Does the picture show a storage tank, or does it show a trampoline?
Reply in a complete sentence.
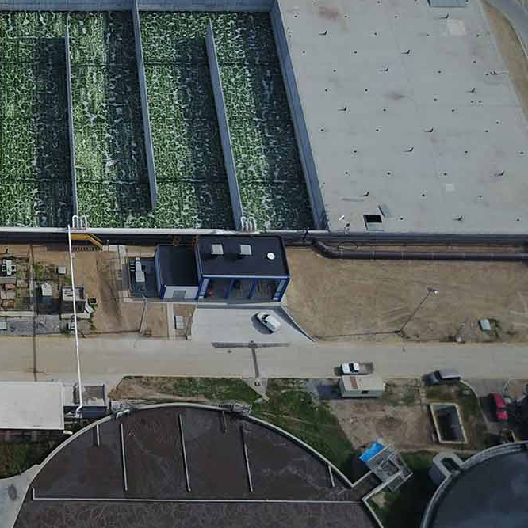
Visible in the photo is a storage tank.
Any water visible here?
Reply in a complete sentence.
Yes, water shows up in the scene.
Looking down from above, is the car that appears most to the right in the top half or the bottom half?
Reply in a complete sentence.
The car that appears most to the right is in the bottom half of the image.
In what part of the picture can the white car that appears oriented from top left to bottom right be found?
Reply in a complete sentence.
The white car that appears oriented from top left to bottom right is in the center part of the image.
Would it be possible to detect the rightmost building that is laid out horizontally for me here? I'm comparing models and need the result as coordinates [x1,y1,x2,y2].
[335,374,386,397]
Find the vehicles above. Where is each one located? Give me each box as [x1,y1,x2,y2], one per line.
[426,367,463,384]
[339,360,374,374]
[487,392,508,420]
[256,309,283,332]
